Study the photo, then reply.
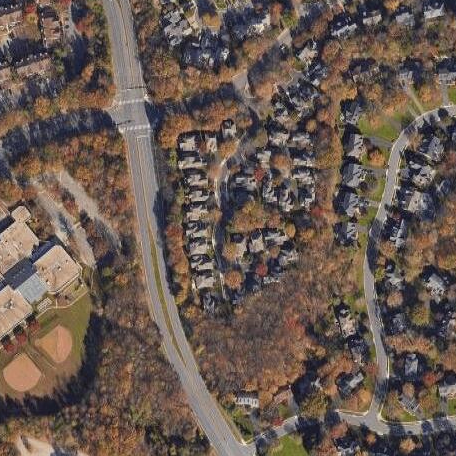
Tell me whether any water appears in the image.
No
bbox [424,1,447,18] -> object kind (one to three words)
house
